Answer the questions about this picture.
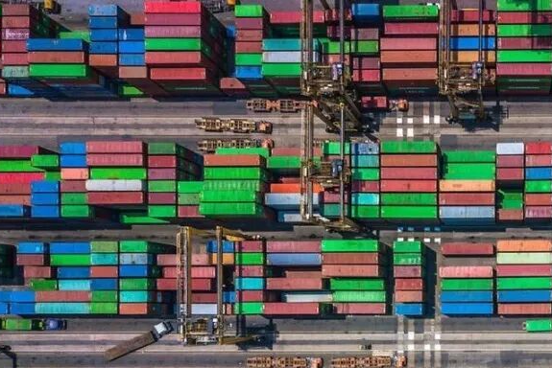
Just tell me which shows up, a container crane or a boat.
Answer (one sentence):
It is a container crane that can be seen here.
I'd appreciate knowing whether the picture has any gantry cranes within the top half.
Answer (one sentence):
Yes, a gantry crane is visible within the top half.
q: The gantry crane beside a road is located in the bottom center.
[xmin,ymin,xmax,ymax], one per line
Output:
[174,219,265,352]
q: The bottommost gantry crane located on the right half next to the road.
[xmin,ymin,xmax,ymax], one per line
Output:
[298,99,372,238]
